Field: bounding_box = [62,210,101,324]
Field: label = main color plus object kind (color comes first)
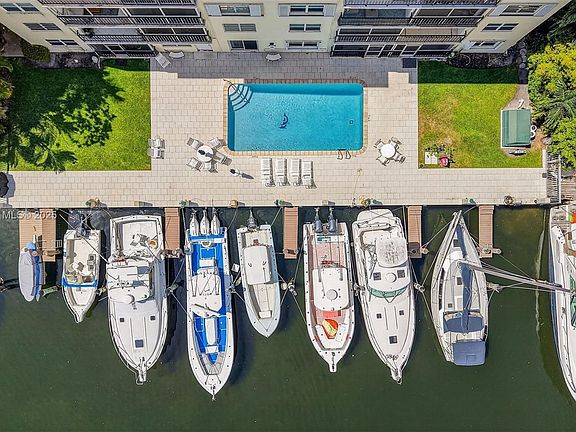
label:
white boat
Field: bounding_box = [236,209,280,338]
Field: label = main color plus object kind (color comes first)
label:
white boat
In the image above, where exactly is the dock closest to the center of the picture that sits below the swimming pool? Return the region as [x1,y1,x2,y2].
[283,207,298,259]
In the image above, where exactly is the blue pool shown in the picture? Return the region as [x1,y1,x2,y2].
[223,78,368,156]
